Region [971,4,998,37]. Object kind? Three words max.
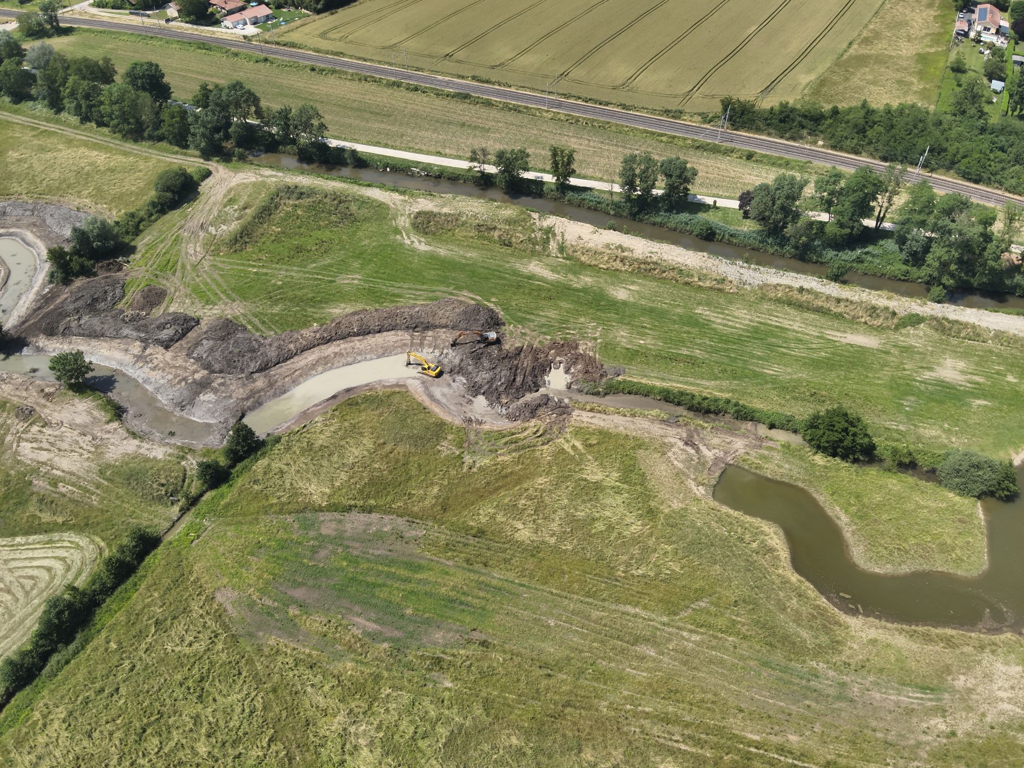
house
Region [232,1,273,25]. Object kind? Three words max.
house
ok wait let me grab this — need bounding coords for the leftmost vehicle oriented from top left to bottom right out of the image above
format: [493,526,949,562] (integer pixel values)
[405,347,441,379]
